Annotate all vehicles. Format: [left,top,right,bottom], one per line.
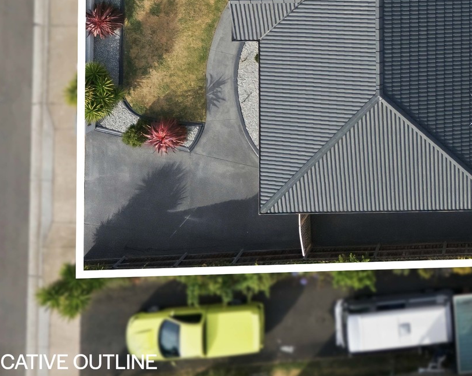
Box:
[128,296,265,366]
[335,277,454,353]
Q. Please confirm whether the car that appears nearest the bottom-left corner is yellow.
Yes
